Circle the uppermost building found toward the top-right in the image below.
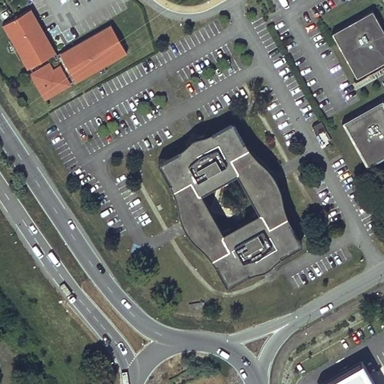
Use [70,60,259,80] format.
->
[332,13,384,81]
